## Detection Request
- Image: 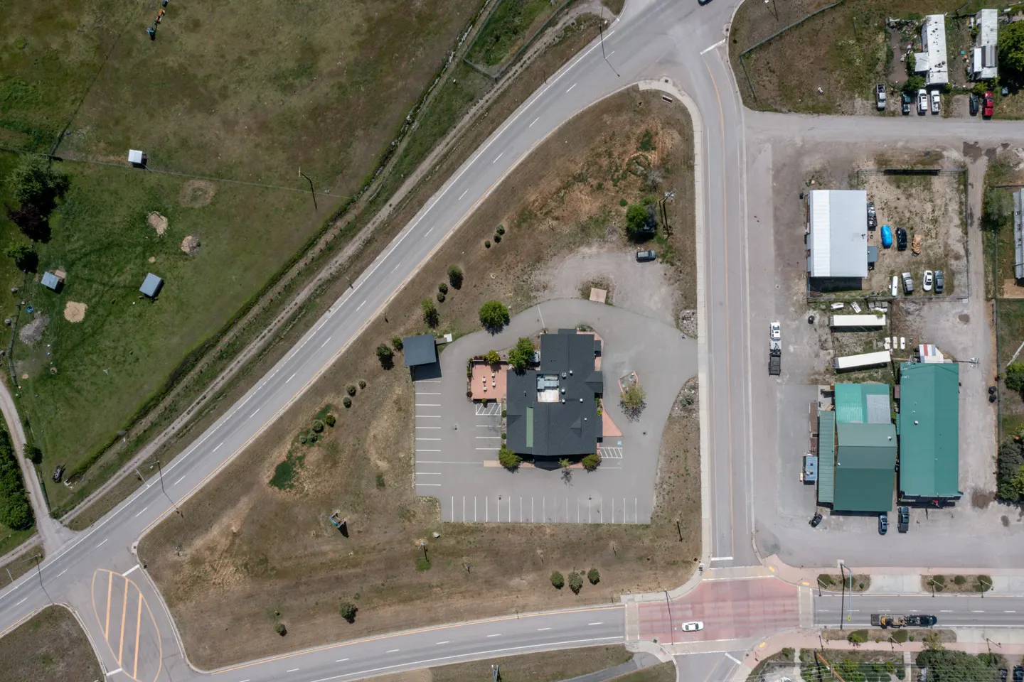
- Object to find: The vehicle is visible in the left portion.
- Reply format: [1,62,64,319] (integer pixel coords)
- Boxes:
[52,465,66,483]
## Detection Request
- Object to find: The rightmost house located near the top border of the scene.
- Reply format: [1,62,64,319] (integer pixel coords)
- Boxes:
[968,9,998,82]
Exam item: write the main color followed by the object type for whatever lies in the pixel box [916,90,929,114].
white vehicle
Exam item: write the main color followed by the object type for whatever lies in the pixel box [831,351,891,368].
white trailer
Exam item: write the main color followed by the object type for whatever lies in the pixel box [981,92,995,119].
red vehicle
